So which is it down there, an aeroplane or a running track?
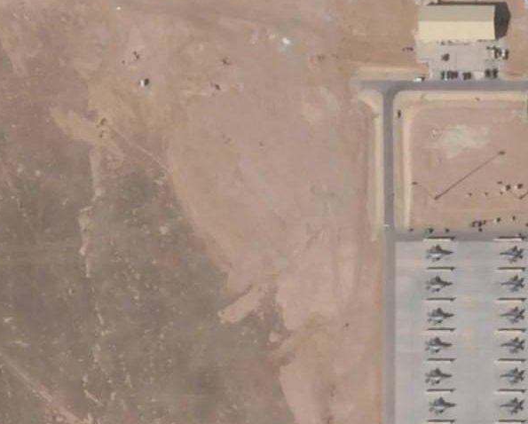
aeroplane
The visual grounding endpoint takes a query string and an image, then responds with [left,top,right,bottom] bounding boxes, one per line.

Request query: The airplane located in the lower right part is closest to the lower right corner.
[500,398,521,415]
